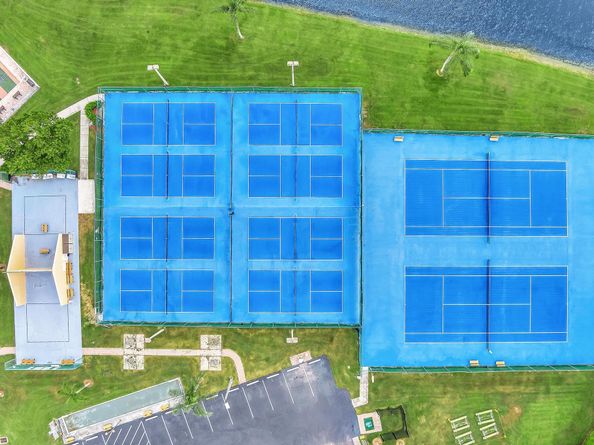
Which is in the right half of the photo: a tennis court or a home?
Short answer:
tennis court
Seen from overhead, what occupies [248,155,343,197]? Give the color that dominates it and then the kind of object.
blue sports court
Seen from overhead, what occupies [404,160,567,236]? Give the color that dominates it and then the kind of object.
blue tennis court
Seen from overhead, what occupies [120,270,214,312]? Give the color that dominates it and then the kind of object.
blue sports court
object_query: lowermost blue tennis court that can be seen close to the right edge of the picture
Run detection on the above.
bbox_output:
[404,266,568,343]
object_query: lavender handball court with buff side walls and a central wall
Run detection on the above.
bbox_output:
[3,178,82,365]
